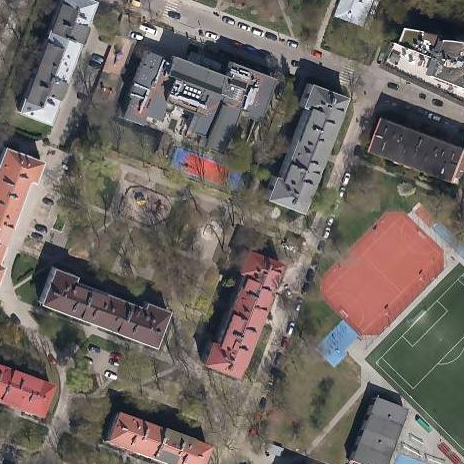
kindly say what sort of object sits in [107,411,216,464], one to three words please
building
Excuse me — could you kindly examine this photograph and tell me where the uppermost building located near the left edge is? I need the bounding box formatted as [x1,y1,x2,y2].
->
[21,0,101,124]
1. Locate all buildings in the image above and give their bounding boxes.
[124,49,279,152]
[21,0,101,124]
[370,117,464,184]
[40,265,175,350]
[354,396,410,464]
[107,411,216,464]
[269,84,352,215]
[387,28,464,97]
[0,147,49,288]
[206,250,288,381]
[335,0,375,27]
[0,364,59,418]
